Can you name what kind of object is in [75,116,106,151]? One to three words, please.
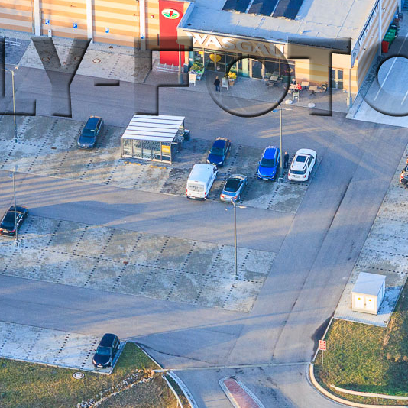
car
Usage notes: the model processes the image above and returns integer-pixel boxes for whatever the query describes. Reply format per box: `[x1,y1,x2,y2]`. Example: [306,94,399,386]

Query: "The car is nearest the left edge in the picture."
[0,207,30,241]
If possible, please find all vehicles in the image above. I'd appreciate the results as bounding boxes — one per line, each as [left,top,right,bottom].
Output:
[204,135,234,169]
[218,173,249,205]
[186,167,217,202]
[91,330,123,370]
[75,116,106,151]
[254,146,282,180]
[0,207,30,241]
[287,150,318,185]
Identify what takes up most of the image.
paved ground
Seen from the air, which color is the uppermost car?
blue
